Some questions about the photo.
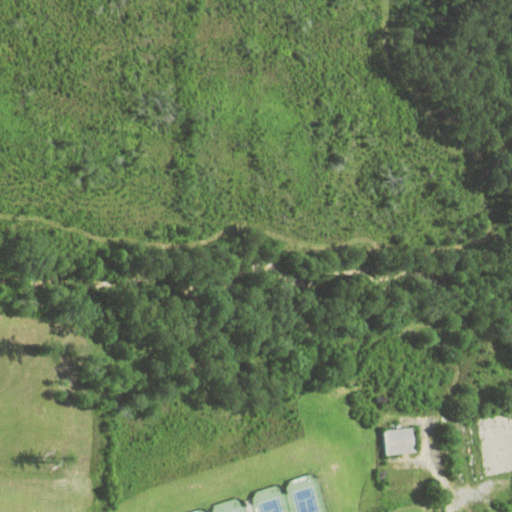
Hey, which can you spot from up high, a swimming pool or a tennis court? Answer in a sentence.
Looking from above, you can make out a tennis court.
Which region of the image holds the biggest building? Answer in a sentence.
The biggest building is in the bottom right part of the image.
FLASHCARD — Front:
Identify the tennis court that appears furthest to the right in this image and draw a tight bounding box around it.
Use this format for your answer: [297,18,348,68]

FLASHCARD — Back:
[284,476,326,512]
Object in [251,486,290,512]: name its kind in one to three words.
tennis court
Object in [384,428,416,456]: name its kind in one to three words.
building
